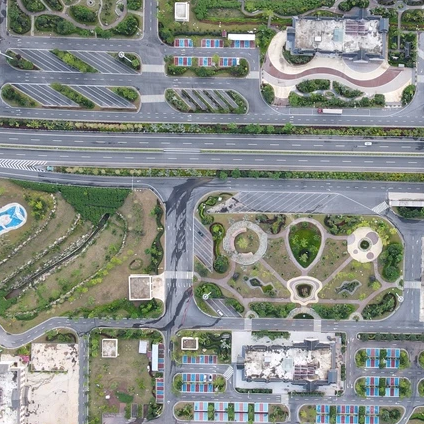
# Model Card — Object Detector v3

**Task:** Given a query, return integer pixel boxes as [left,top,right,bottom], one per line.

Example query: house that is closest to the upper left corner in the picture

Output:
[175,2,190,22]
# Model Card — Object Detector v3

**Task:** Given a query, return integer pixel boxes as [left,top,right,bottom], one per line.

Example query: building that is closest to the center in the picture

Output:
[129,274,153,300]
